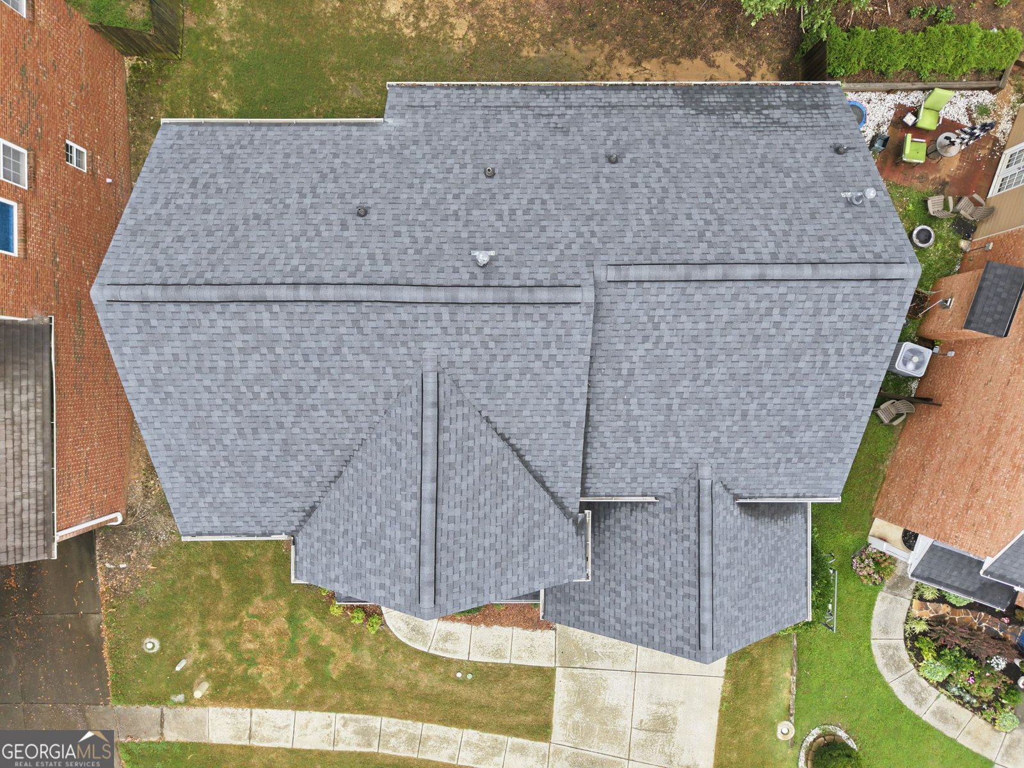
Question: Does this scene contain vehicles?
No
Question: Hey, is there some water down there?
No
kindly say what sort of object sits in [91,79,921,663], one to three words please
house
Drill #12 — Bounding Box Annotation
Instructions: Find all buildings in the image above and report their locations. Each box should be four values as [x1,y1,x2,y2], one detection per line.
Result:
[91,79,921,663]
[866,103,1024,618]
